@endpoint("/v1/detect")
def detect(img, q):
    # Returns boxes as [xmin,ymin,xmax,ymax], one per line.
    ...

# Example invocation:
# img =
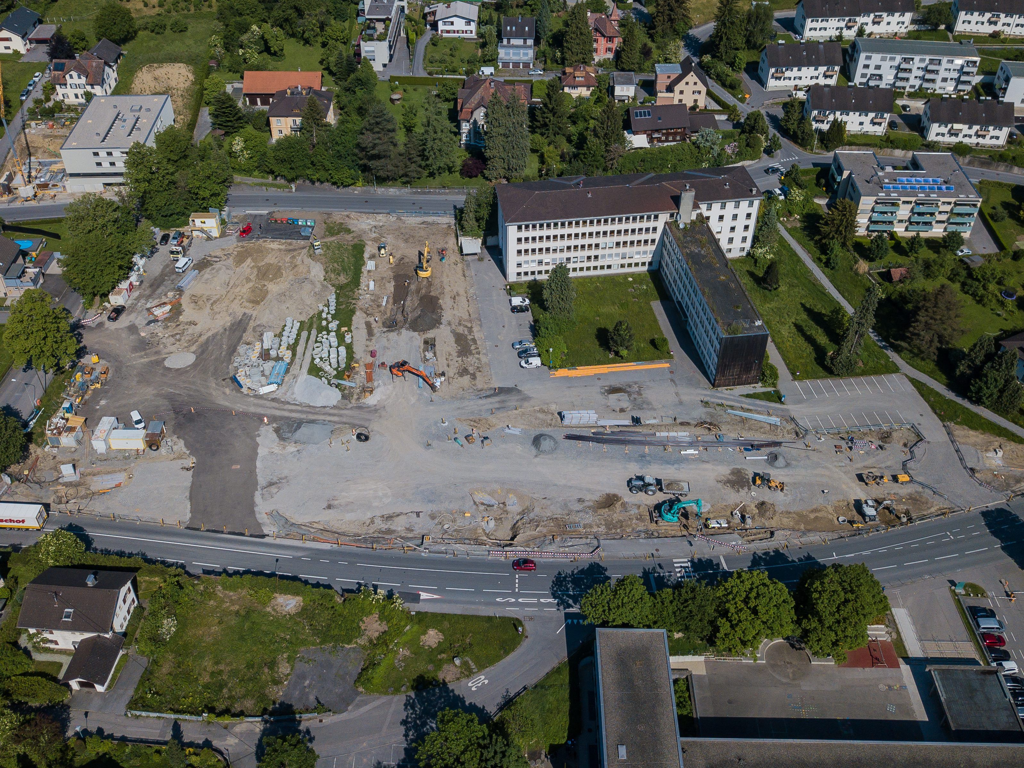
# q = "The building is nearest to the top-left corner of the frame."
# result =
[0,9,55,56]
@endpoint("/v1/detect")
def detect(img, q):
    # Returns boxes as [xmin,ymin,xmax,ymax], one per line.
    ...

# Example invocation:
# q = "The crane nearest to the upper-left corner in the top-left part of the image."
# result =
[0,58,36,190]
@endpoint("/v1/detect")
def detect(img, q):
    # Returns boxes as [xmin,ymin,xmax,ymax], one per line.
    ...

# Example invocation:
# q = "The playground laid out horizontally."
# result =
[684,661,930,738]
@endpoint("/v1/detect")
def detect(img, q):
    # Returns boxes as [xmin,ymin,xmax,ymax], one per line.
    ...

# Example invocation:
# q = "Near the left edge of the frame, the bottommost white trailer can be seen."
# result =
[0,501,48,529]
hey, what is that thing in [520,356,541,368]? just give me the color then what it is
white vehicle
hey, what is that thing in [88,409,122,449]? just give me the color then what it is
white shipping container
